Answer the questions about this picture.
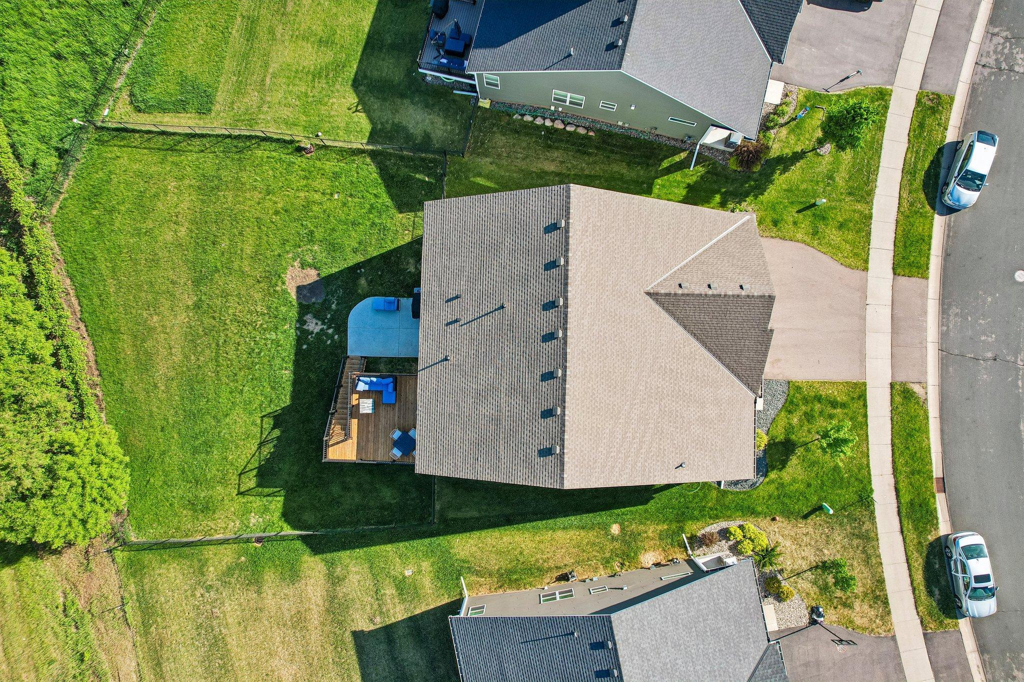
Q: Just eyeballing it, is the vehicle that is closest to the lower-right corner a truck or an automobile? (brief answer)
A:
automobile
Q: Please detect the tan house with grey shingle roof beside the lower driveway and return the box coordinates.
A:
[448,534,796,682]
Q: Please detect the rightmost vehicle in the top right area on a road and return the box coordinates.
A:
[942,129,998,211]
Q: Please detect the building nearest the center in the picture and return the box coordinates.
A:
[412,183,776,491]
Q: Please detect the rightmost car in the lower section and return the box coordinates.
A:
[945,530,999,621]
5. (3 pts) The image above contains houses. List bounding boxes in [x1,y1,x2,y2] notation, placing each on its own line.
[448,534,796,682]
[412,183,776,491]
[454,0,809,169]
